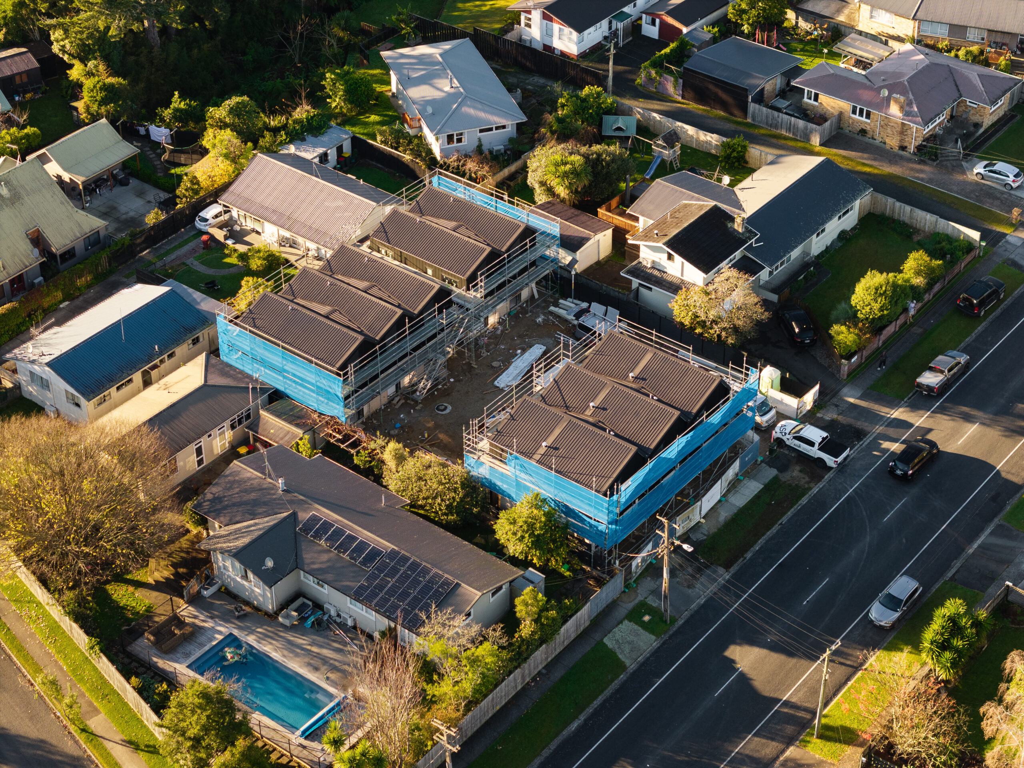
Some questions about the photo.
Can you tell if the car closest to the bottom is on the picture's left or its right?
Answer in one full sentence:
The car closest to the bottom is on the right side of the image.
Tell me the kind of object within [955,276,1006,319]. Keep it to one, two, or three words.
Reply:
car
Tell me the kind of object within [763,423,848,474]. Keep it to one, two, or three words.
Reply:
truck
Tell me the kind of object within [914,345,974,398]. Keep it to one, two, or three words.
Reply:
truck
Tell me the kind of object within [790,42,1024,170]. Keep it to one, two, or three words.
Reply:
house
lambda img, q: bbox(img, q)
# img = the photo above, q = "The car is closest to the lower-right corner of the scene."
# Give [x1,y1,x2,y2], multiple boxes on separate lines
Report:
[866,569,929,632]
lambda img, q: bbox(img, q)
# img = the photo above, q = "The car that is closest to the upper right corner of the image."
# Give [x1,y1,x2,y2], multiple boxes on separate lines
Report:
[973,160,1024,190]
